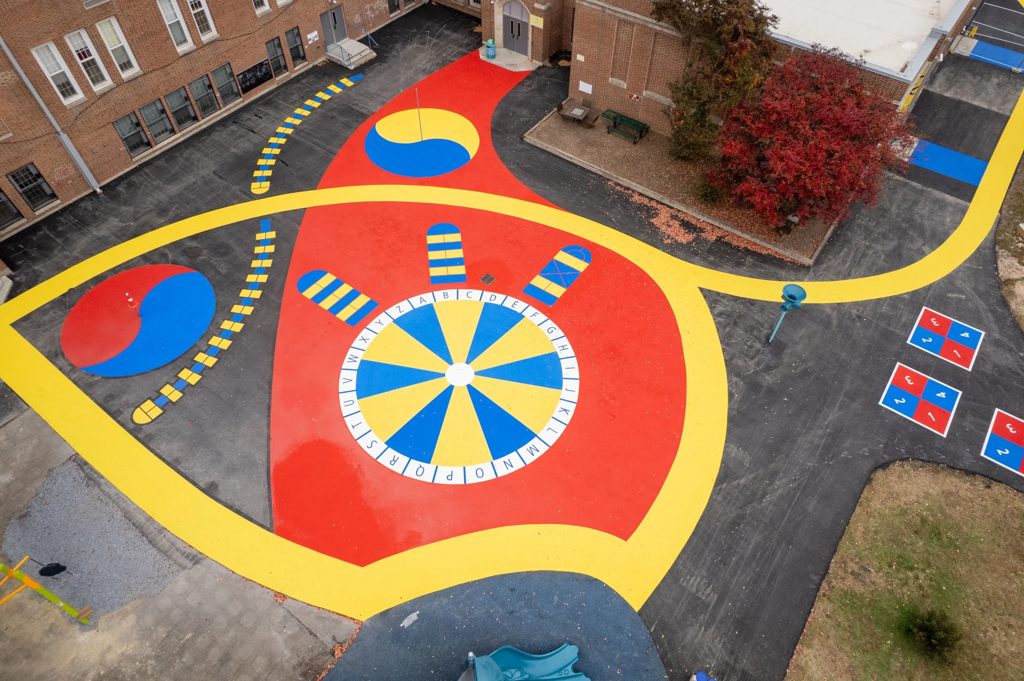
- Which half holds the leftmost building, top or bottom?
top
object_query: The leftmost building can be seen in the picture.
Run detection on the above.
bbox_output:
[0,0,482,277]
